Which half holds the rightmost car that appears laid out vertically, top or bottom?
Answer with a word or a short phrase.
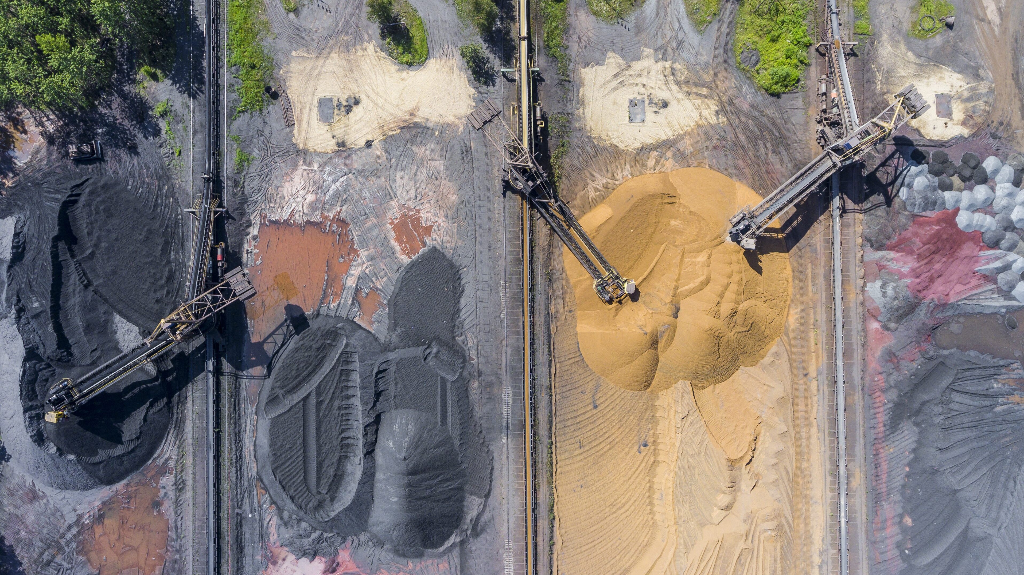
top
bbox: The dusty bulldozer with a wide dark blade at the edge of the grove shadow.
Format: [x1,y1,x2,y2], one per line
[69,144,103,164]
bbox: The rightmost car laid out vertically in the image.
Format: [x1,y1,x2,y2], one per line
[810,25,863,159]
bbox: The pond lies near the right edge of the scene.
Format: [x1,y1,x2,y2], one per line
[957,308,1024,363]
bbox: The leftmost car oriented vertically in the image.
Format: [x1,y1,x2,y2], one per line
[179,170,228,310]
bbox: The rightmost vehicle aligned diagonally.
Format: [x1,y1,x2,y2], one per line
[735,78,934,251]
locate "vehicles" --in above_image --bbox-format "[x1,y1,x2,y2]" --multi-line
[179,170,228,310]
[810,25,863,159]
[735,78,934,251]
[465,97,637,303]
[69,144,103,164]
[43,264,258,424]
